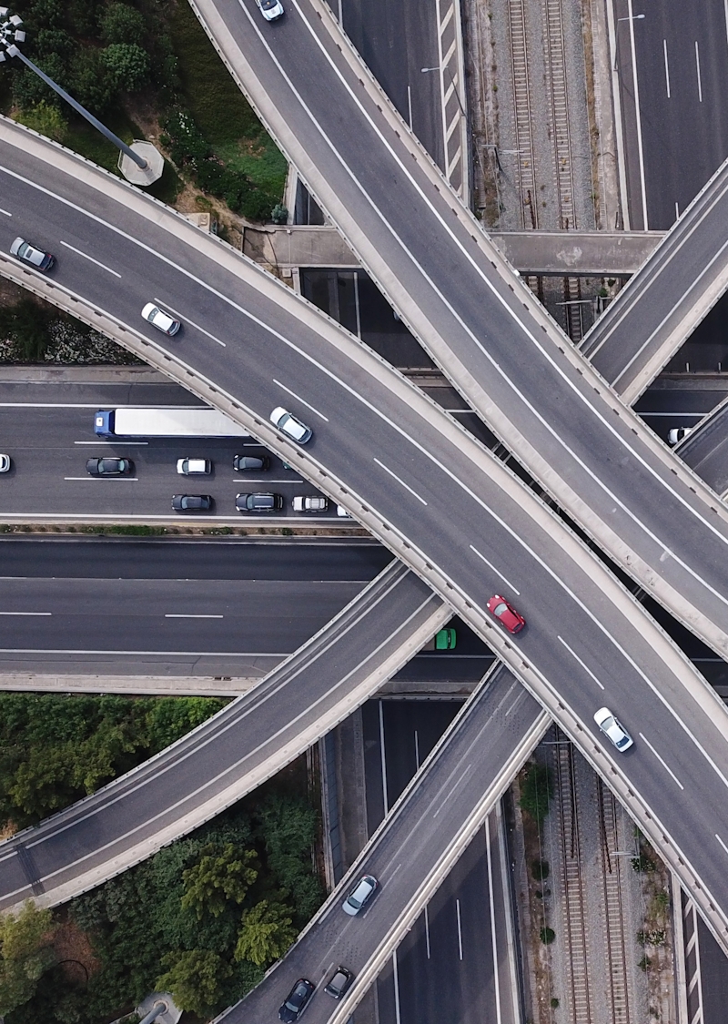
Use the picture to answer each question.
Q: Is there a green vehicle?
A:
Yes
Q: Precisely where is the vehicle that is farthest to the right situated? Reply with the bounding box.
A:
[668,425,695,445]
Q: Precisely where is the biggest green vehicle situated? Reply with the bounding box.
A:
[422,626,459,652]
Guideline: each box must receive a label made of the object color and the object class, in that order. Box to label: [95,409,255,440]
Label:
white truck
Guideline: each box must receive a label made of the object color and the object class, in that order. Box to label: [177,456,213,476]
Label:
white car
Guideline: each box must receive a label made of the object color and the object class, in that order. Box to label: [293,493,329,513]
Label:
white car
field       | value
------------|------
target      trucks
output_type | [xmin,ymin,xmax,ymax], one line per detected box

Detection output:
[422,626,459,652]
[95,409,255,440]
